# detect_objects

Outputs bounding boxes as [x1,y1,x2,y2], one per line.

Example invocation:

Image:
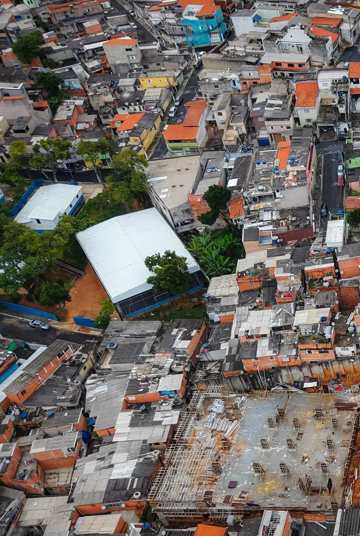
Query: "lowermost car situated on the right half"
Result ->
[317,203,332,217]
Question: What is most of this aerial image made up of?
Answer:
buildings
